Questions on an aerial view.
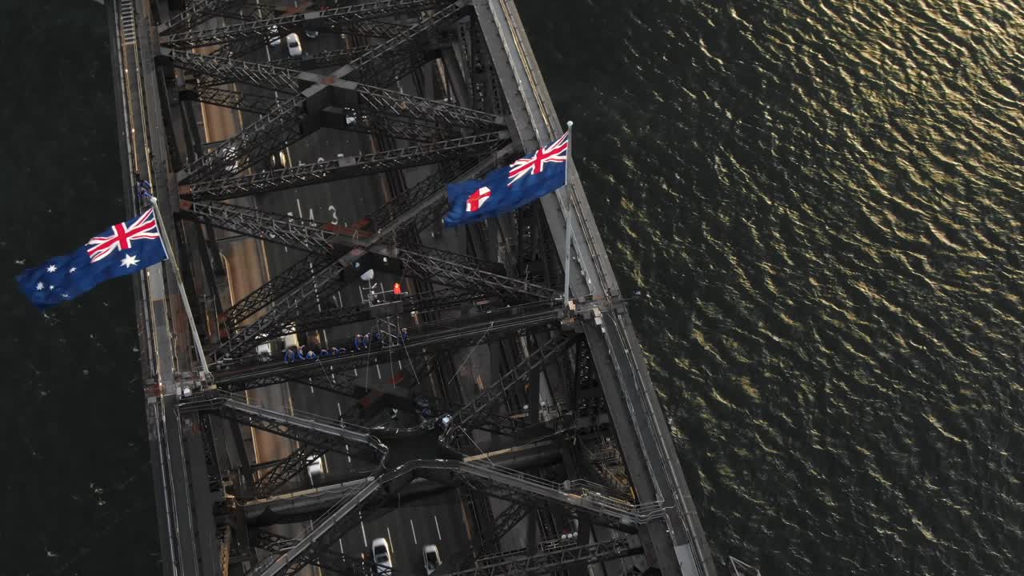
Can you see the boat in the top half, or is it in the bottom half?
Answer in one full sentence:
Seen from above, the boat lies in the bottom half of the view.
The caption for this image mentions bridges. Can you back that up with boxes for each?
[108,0,713,576]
